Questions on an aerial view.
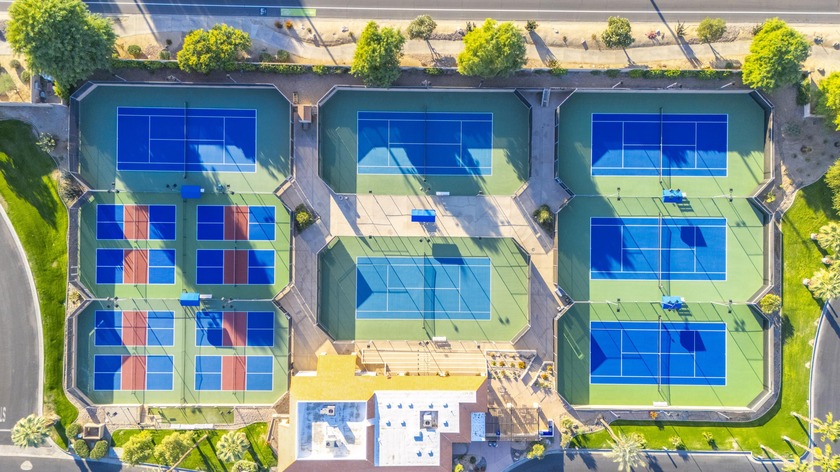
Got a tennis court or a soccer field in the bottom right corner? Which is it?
tennis court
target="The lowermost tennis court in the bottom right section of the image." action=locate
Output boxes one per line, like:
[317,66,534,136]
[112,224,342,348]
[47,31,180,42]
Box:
[561,302,764,406]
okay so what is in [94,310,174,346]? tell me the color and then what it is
blue sports court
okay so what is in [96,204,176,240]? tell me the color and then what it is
blue sports court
